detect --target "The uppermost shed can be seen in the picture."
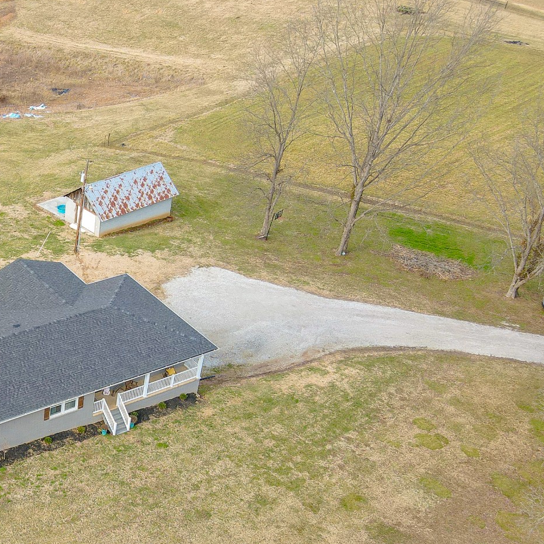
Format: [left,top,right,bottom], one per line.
[65,159,178,237]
